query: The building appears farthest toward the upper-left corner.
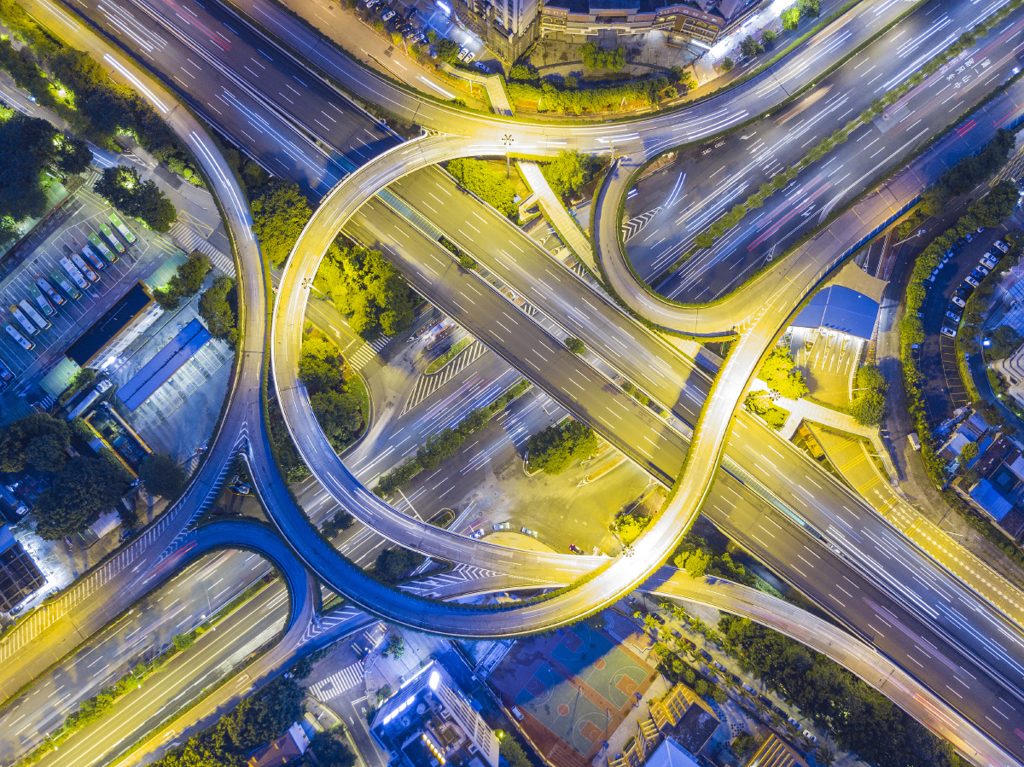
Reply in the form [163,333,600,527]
[63,281,158,368]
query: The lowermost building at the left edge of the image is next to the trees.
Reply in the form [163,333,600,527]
[0,538,59,622]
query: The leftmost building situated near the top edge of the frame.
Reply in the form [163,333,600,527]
[474,0,546,64]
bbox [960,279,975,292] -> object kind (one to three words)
vehicle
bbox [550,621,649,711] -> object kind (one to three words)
basketball court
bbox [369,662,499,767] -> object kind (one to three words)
building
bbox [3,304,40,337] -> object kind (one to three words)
bus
